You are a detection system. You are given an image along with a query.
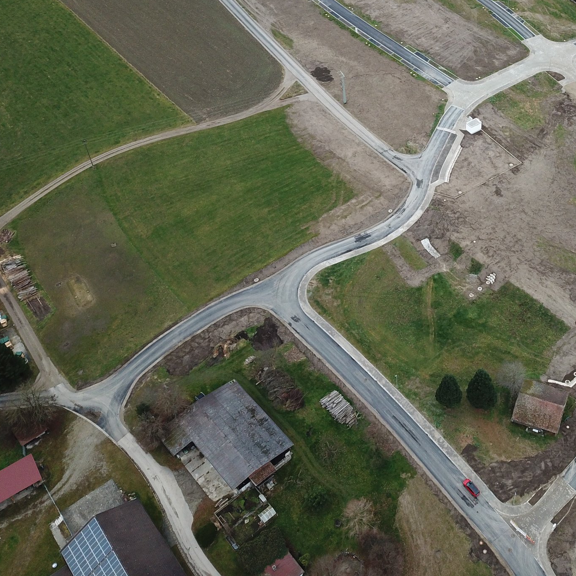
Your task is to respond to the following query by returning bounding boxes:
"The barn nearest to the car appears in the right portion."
[512,381,568,438]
